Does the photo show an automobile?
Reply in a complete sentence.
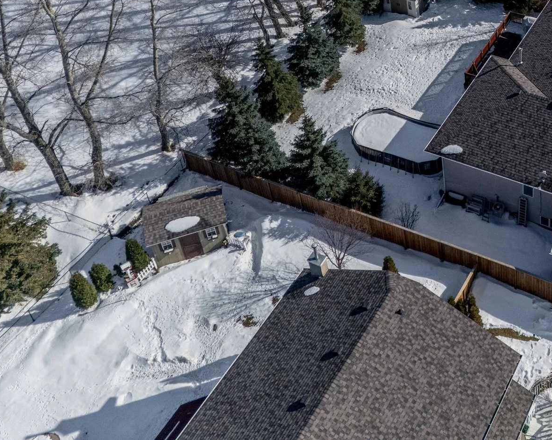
No, there is no automobile in the image.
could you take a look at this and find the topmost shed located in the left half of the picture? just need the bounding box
[139,183,229,267]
